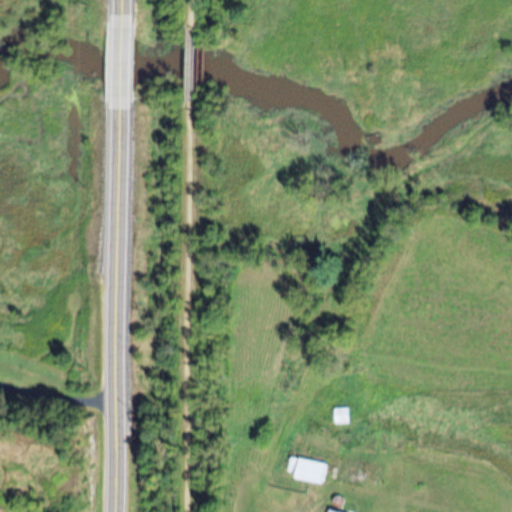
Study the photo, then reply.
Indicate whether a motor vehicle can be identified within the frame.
No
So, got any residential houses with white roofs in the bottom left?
No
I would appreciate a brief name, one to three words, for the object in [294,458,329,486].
house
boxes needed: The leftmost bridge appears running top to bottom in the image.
[105,14,135,110]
